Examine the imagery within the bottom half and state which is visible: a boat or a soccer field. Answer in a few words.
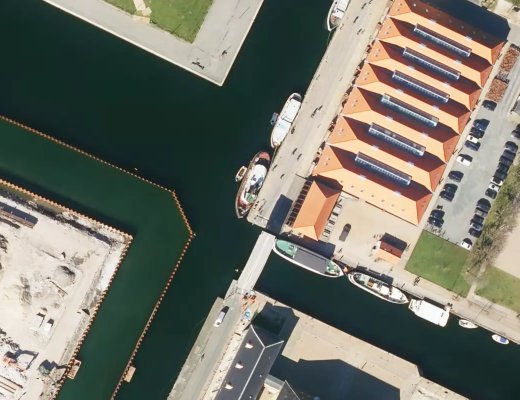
boat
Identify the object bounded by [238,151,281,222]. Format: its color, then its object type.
white ship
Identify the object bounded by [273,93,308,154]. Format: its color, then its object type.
white boat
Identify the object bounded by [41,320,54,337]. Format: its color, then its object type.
white vehicle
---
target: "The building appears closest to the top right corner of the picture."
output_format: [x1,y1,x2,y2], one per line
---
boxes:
[315,0,508,226]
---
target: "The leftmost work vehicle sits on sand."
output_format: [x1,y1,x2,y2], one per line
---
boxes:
[1,355,24,372]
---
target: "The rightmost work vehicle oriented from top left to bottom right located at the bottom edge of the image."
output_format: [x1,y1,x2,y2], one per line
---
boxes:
[36,362,56,386]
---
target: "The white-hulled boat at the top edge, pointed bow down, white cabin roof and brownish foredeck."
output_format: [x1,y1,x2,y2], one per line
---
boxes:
[326,0,350,31]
